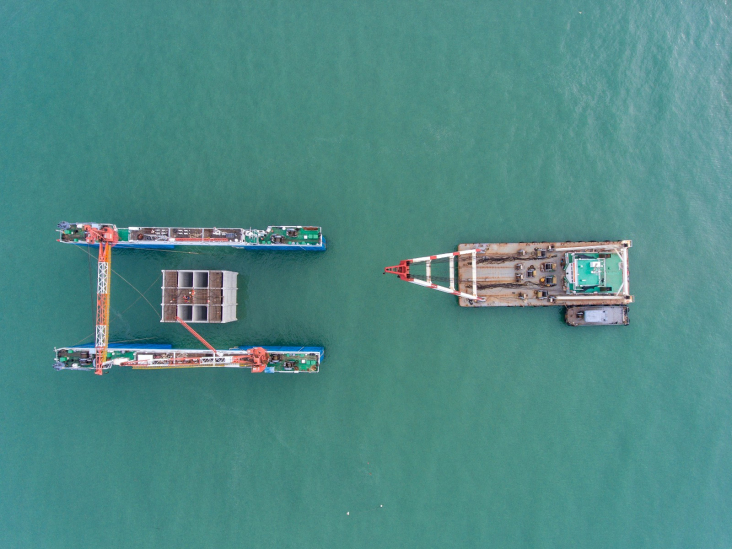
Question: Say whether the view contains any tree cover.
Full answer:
No, there's no tree cover in this view.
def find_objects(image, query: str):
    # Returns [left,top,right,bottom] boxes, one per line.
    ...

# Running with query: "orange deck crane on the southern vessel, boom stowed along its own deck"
[118,349,272,372]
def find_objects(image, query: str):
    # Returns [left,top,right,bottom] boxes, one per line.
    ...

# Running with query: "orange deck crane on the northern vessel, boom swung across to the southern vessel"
[84,221,125,375]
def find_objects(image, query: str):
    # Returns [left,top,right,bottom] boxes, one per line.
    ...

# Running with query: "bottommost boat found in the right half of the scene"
[564,305,629,327]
